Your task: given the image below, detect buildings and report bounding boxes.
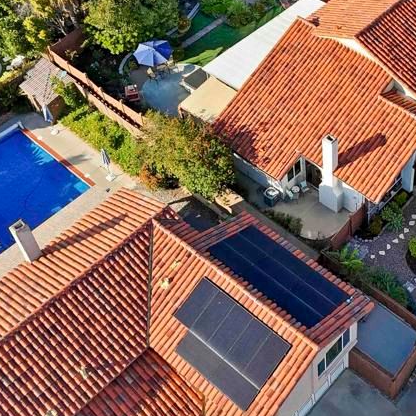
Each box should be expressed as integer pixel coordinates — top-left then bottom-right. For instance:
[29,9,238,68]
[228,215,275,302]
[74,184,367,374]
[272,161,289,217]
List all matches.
[0,185,377,416]
[13,57,80,120]
[211,0,416,220]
